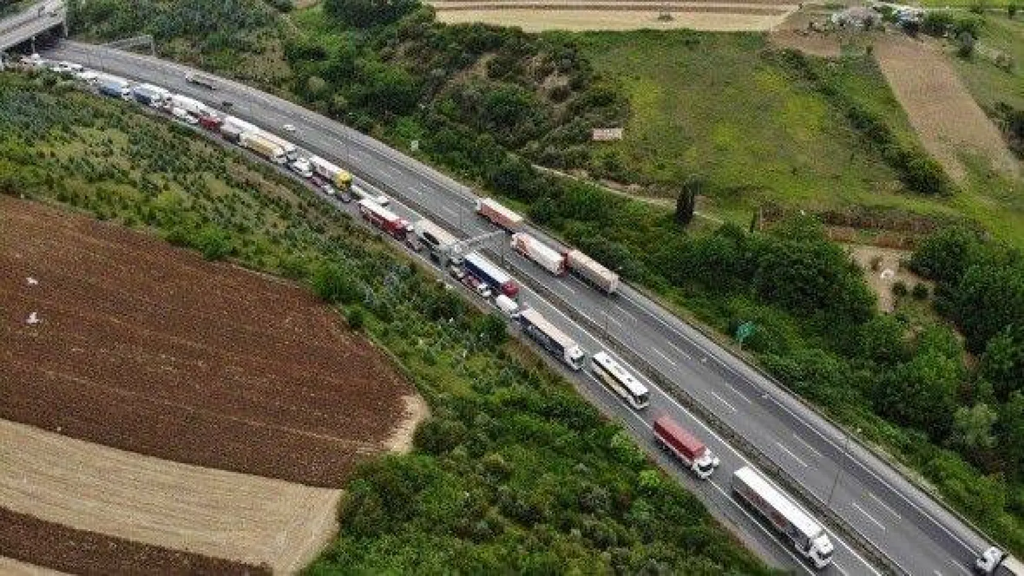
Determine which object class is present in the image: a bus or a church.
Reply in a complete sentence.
Of the two, only a bus appears.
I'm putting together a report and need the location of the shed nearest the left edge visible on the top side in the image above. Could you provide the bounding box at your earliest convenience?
[594,127,622,141]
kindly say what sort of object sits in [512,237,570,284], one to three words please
truck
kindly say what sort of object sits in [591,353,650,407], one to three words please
bus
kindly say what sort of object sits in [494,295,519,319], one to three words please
vehicle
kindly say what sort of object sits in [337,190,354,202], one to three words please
vehicle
